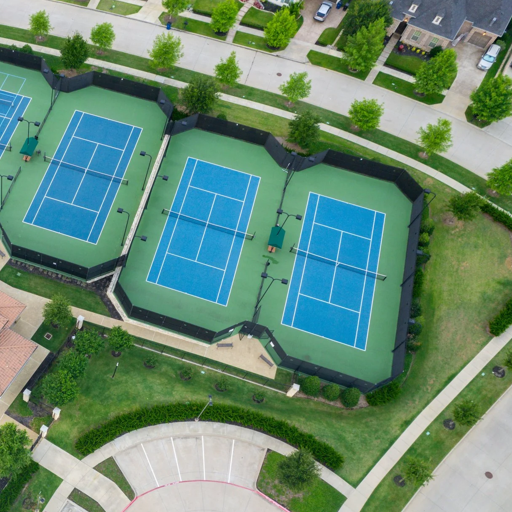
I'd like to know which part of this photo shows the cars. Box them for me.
[482,41,506,66]
[316,0,333,20]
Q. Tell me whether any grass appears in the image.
Yes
